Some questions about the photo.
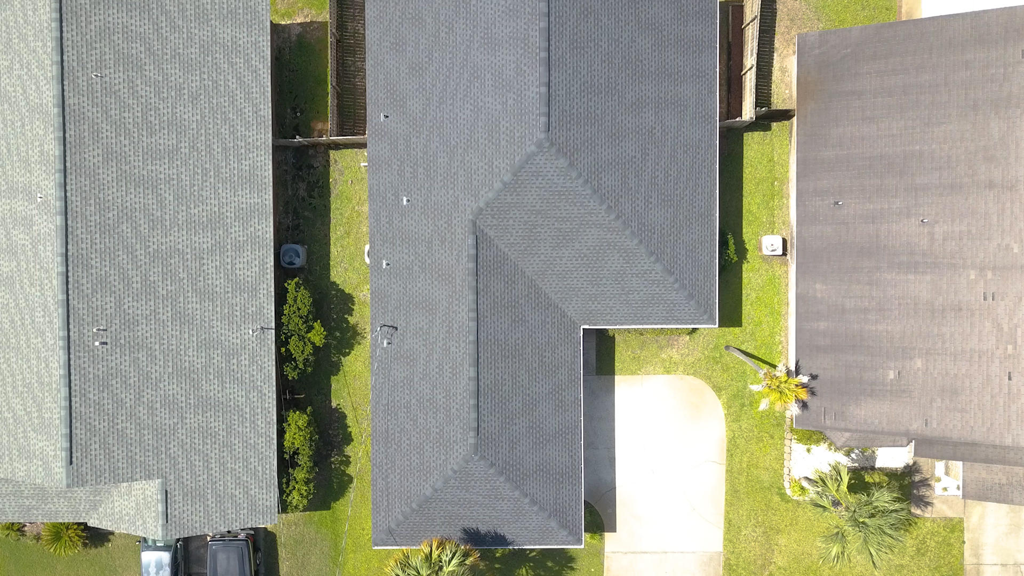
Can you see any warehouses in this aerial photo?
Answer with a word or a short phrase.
No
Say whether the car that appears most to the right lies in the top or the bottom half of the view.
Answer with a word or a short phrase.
bottom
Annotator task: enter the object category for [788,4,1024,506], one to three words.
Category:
house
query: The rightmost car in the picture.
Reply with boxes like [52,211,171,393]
[208,525,266,576]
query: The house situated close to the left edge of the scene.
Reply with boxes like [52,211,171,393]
[0,0,281,539]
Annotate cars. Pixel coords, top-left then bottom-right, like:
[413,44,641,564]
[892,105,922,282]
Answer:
[133,533,189,576]
[208,525,266,576]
